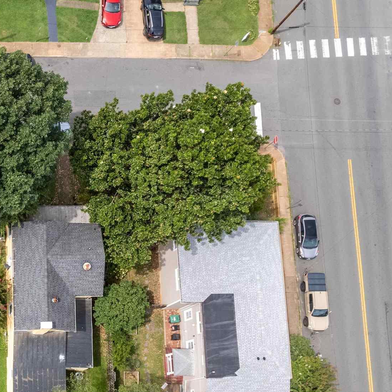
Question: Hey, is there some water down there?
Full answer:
No, water can't be seen anywhere here.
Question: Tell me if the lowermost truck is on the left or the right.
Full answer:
The lowermost truck is on the right side of the image.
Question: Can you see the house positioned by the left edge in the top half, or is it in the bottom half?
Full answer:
Seen from above, the house positioned by the left edge lies in the bottom half of the view.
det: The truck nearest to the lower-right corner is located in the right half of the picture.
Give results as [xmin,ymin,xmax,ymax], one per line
[299,275,332,333]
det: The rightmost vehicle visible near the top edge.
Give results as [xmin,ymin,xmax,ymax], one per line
[140,0,165,43]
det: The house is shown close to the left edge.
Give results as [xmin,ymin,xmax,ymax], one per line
[3,206,108,392]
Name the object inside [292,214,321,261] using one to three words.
car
